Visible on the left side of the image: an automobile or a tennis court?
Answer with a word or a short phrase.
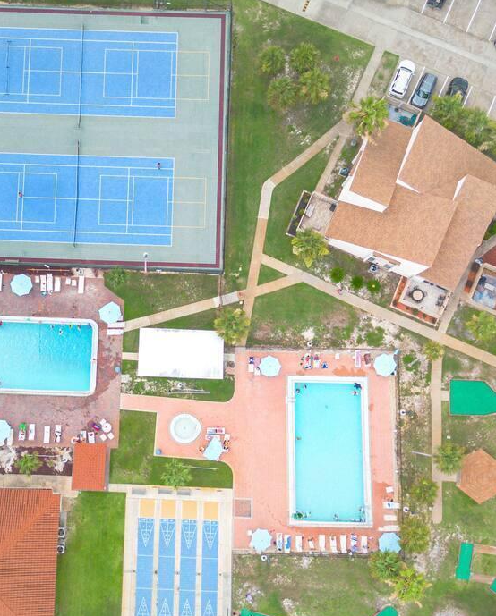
tennis court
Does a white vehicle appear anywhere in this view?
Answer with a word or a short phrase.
Yes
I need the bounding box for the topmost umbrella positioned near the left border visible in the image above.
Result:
[10,274,33,295]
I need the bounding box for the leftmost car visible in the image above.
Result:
[387,59,415,100]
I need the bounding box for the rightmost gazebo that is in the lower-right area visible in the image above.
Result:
[450,449,496,504]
